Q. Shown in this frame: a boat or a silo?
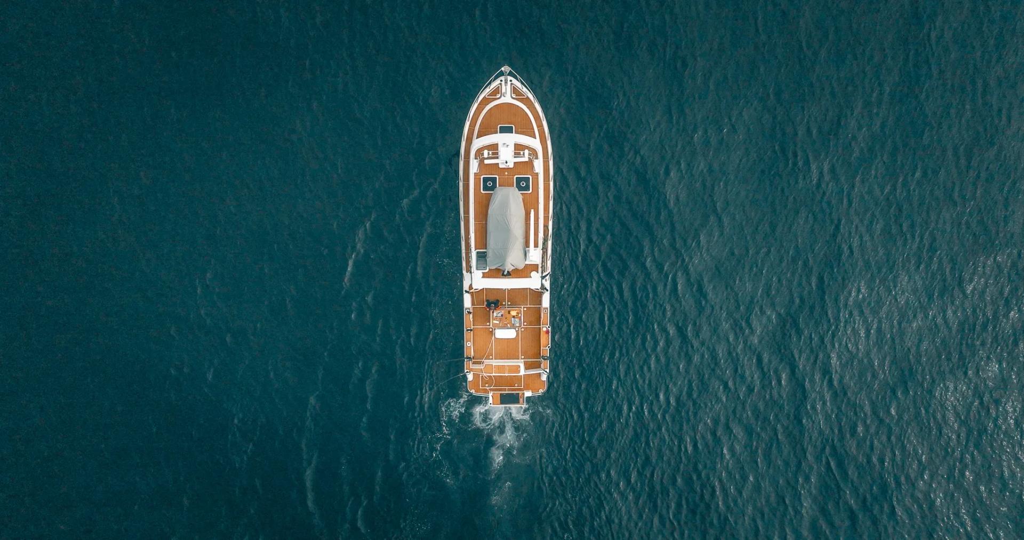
boat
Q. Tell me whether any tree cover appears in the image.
No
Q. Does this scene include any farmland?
No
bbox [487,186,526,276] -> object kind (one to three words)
boat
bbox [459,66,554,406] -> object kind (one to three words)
boat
